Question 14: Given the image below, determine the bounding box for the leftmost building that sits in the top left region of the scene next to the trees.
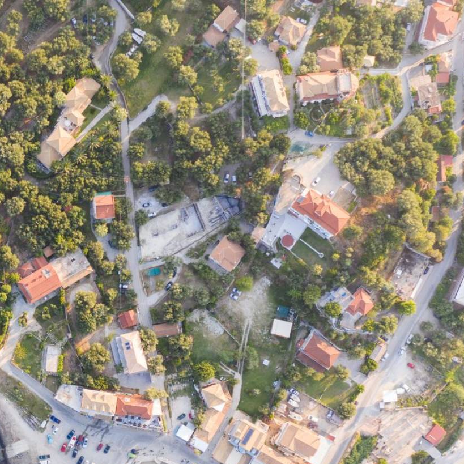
[34,76,101,167]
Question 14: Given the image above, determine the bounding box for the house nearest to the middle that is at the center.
[208,236,245,272]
